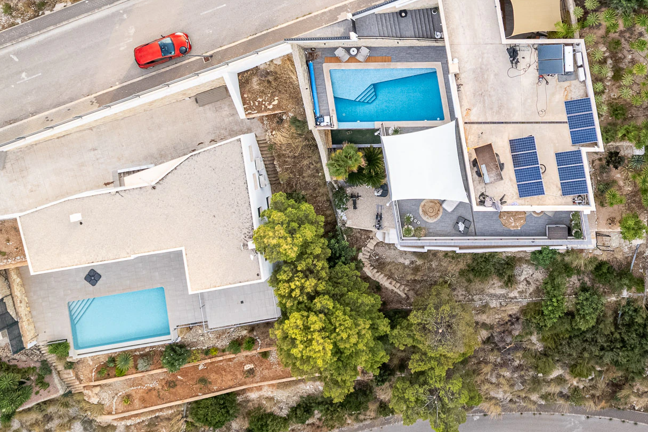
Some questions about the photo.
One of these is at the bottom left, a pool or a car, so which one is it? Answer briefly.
pool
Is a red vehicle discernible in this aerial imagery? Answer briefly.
Yes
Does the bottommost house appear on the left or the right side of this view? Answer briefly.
left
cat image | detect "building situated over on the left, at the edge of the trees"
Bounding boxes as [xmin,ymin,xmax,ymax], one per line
[19,134,269,293]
